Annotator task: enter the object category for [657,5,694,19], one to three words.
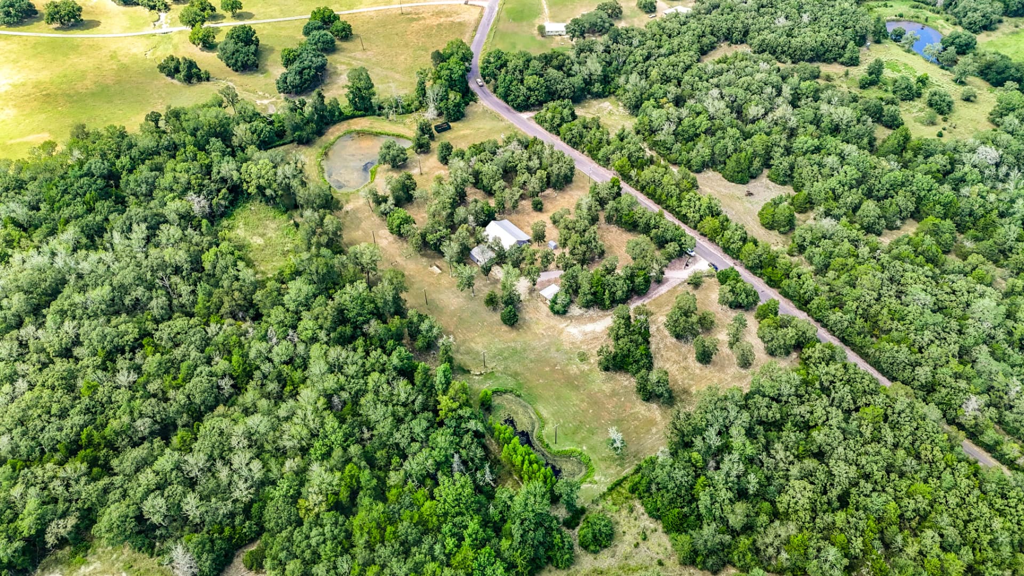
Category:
house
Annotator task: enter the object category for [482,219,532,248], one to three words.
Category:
house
